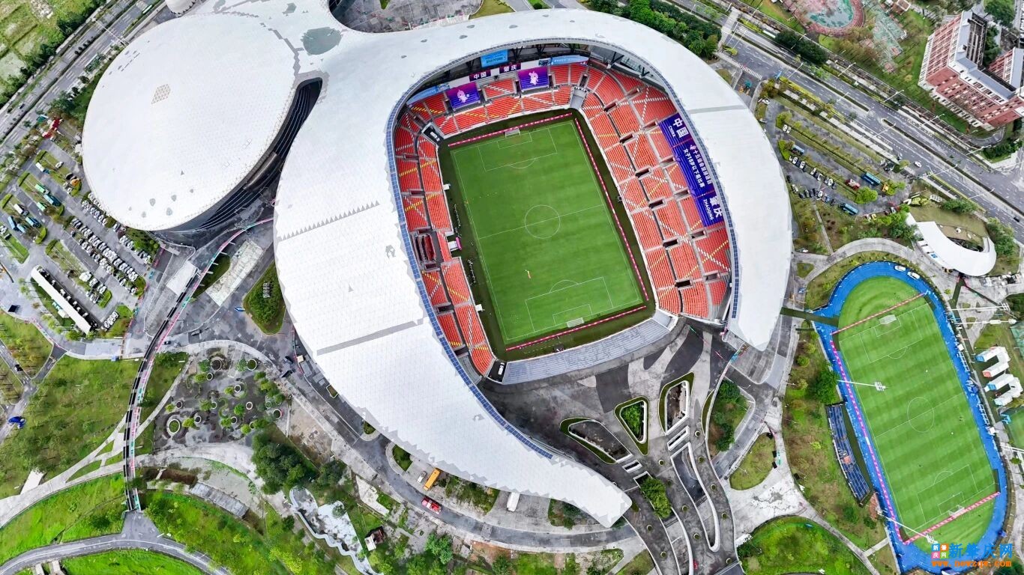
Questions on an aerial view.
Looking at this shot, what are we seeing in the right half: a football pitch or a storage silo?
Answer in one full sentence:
The feature located in the right half is a football pitch.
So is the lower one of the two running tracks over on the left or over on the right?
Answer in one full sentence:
It is on the right.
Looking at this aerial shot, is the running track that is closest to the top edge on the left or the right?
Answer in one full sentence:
It is on the right.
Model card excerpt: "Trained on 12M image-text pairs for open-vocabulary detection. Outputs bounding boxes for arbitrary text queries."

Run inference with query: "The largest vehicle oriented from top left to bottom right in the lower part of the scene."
[421,496,441,513]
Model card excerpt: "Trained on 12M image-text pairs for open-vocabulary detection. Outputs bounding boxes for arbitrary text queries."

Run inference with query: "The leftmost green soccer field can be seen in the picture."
[446,116,645,347]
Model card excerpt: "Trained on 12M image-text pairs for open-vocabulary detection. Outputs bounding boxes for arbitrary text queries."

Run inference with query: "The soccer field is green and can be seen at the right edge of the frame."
[835,275,995,553]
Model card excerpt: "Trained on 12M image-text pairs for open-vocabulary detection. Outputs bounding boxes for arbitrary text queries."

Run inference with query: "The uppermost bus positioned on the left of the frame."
[135,0,159,20]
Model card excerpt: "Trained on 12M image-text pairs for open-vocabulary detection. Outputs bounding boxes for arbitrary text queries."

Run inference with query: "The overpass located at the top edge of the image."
[714,7,764,70]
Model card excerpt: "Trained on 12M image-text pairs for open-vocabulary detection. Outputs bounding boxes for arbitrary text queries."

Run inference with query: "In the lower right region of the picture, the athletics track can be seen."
[812,261,1008,575]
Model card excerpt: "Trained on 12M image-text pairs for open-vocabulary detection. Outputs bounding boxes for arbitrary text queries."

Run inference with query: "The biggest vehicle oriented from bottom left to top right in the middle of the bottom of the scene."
[423,467,442,493]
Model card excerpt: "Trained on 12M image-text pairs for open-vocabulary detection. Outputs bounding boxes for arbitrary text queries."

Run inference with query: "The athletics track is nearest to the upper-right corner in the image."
[784,0,865,36]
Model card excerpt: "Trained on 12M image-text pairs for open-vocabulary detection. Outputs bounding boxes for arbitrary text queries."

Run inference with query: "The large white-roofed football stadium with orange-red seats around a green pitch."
[196,0,793,527]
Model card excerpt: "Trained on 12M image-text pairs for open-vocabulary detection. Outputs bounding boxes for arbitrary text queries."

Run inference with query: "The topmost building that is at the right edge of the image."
[913,10,1024,122]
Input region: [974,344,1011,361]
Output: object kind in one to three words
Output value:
tent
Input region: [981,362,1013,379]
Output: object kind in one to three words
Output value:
tent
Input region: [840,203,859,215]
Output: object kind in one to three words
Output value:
vehicle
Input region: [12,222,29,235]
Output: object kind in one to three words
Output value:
vehicle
